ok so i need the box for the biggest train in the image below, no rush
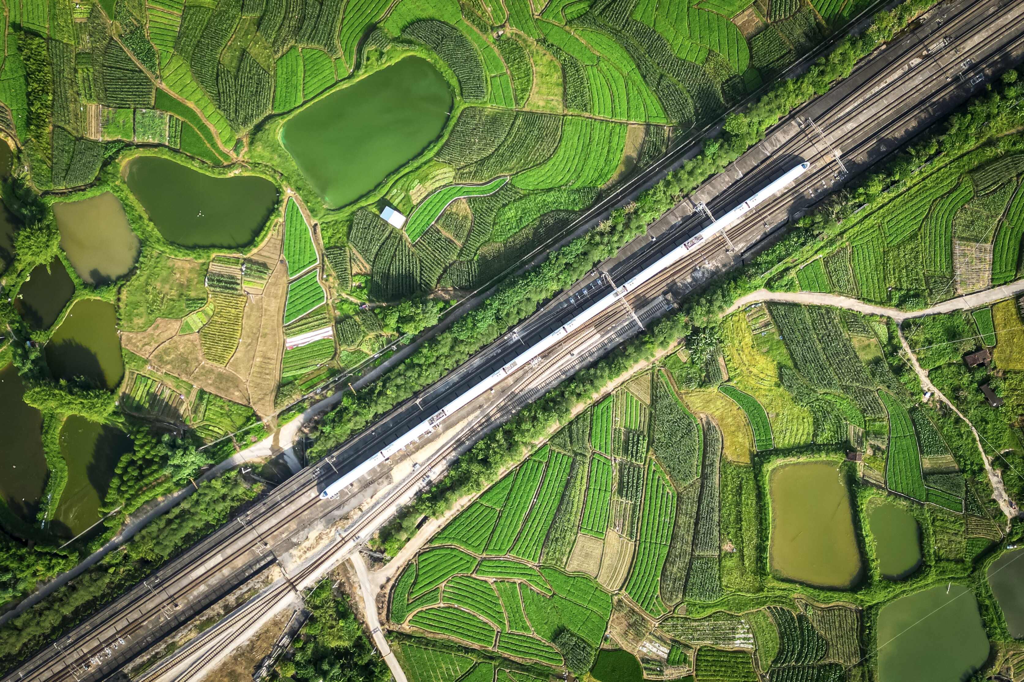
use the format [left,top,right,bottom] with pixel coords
[321,162,809,498]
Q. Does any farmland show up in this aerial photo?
Yes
